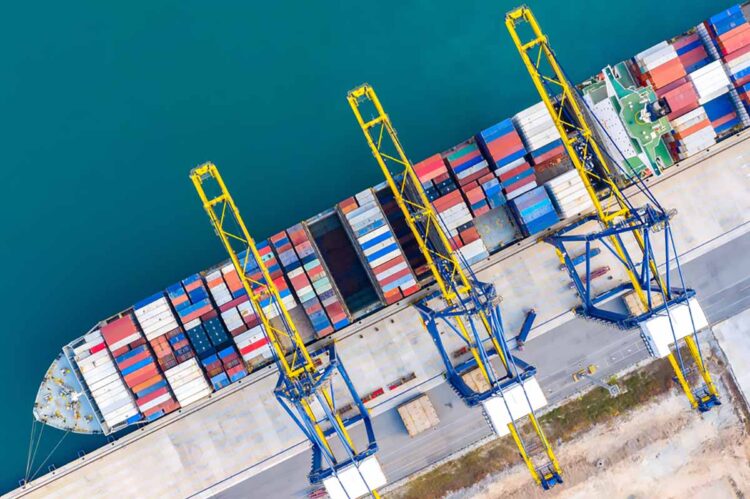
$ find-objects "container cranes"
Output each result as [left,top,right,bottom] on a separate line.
[189,162,388,499]
[505,5,721,412]
[347,84,562,489]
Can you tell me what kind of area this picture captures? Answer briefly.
port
